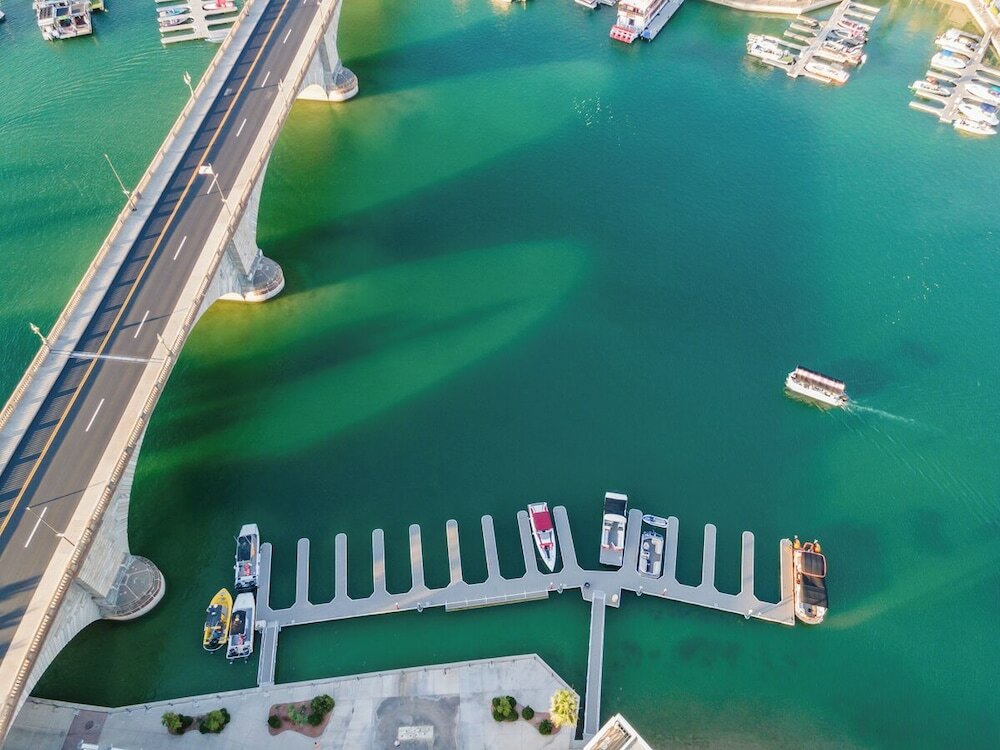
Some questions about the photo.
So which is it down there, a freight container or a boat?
boat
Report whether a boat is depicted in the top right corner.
Yes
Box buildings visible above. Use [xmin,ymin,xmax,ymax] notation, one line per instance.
[582,713,650,750]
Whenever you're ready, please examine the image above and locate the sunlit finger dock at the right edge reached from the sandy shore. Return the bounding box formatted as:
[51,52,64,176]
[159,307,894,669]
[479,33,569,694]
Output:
[911,33,1000,128]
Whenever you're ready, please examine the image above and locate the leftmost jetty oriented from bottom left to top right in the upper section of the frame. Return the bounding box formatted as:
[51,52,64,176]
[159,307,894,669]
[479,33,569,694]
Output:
[641,0,687,42]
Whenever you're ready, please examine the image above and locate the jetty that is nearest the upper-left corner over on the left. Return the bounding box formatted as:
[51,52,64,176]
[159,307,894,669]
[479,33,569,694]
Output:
[152,0,242,45]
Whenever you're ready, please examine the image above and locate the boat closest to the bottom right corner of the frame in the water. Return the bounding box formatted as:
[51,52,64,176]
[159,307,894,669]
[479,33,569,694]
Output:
[794,533,832,626]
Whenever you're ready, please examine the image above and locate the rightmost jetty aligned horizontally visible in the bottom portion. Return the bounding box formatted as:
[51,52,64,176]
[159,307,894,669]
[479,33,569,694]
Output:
[253,506,796,629]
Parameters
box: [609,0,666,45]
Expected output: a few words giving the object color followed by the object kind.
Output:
white ship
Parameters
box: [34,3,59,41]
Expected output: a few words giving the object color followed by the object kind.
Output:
white boat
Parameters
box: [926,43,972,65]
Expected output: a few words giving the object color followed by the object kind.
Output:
white boat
